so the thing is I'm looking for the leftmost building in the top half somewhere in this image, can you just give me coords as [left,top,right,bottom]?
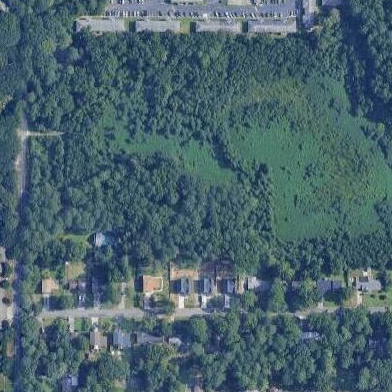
[75,20,125,32]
